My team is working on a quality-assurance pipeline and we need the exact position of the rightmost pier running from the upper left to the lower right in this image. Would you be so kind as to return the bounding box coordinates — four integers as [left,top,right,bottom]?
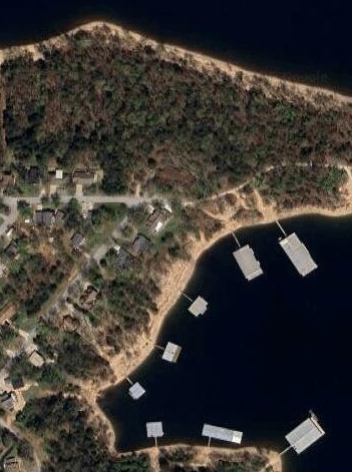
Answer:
[276,219,317,277]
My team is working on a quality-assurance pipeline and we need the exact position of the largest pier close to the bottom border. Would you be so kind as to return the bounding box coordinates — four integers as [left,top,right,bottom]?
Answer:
[280,410,324,454]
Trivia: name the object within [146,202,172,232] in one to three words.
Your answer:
house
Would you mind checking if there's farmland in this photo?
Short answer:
No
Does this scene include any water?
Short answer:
Yes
